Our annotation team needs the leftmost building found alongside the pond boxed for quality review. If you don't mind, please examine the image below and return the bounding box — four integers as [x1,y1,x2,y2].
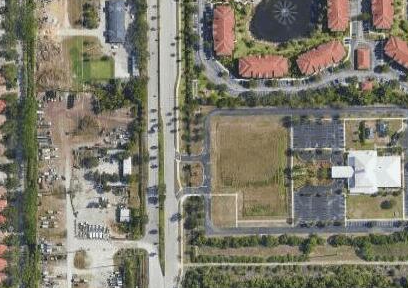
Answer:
[214,7,235,55]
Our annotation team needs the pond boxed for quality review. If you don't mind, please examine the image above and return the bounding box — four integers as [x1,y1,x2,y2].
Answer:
[251,0,317,42]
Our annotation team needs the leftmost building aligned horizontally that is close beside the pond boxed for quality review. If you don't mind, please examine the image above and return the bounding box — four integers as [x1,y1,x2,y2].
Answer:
[241,55,289,78]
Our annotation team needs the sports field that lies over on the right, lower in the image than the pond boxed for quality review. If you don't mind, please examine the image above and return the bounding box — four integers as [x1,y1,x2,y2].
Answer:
[212,115,292,226]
